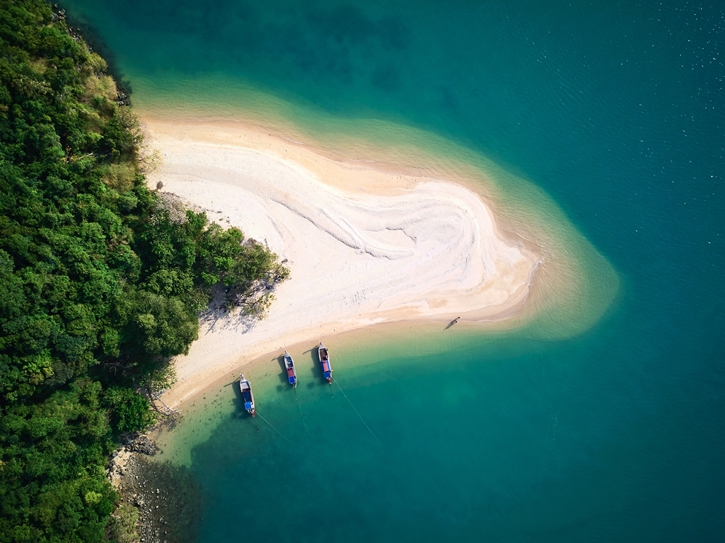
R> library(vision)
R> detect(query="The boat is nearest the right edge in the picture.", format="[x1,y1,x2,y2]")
[319,343,333,396]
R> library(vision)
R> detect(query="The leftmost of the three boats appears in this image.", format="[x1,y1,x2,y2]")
[239,375,260,428]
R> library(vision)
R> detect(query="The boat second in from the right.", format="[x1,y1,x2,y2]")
[285,352,297,400]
